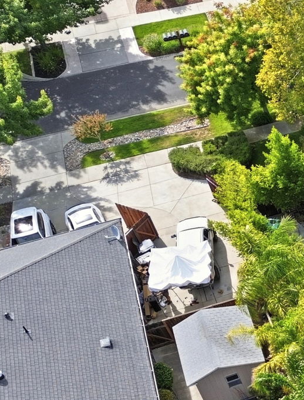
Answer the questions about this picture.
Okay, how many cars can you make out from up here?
3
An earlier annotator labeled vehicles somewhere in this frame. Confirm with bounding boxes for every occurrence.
[9,206,52,246]
[68,197,106,231]
[174,219,223,278]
